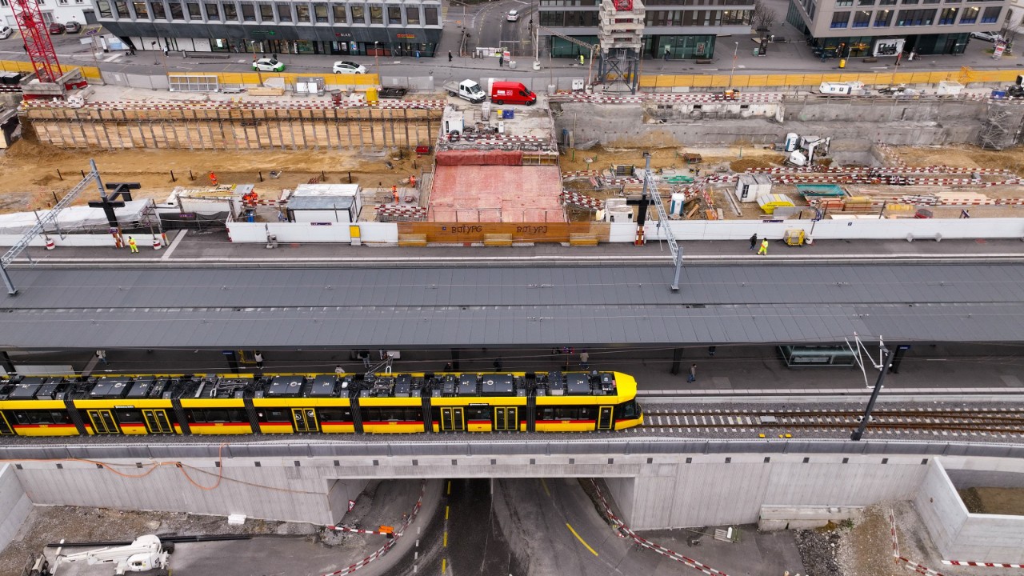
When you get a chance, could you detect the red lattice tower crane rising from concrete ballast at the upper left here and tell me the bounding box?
[12,0,89,96]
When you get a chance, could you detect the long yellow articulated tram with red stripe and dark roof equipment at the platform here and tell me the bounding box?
[0,355,645,435]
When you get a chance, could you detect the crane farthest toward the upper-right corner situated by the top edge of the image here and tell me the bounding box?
[597,0,652,92]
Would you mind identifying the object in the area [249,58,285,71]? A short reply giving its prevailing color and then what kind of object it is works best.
white vehicle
